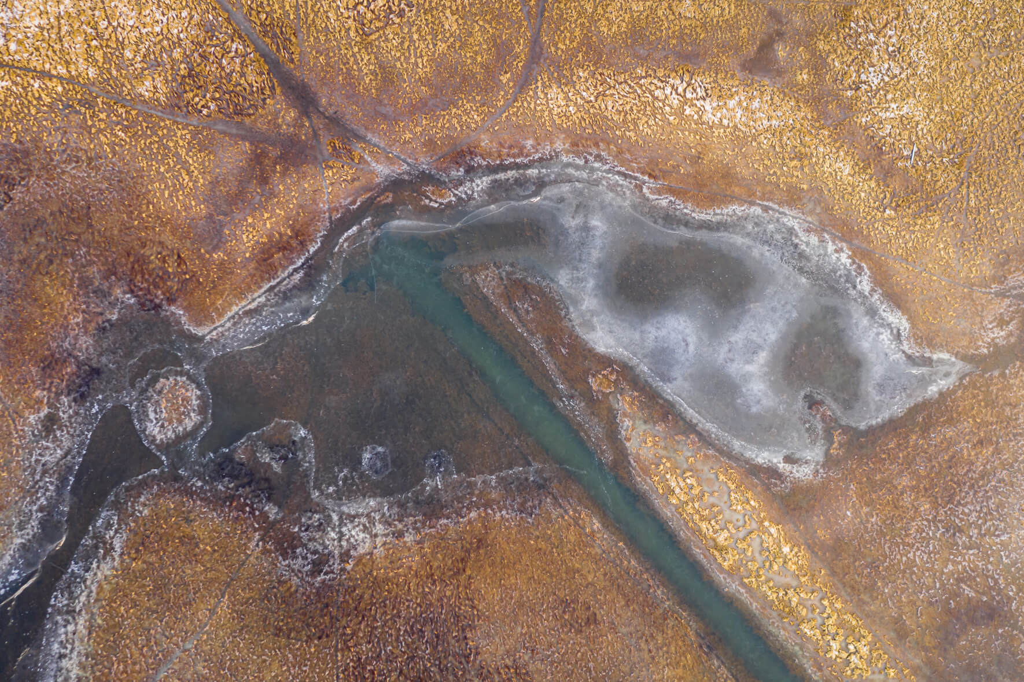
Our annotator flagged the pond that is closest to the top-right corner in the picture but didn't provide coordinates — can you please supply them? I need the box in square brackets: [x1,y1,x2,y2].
[376,182,977,476]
